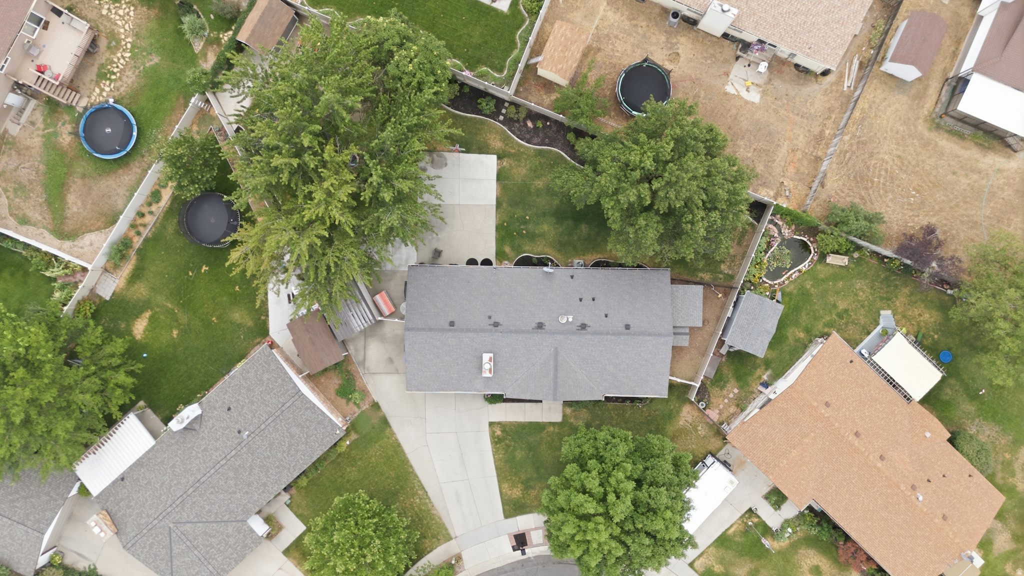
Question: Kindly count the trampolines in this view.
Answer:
3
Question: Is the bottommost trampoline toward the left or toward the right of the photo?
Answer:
left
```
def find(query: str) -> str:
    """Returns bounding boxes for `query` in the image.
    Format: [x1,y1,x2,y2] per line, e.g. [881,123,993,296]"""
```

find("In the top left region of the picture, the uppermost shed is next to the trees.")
[237,0,296,57]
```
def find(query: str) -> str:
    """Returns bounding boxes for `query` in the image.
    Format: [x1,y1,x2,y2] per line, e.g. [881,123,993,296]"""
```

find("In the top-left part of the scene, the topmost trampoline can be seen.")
[76,100,152,159]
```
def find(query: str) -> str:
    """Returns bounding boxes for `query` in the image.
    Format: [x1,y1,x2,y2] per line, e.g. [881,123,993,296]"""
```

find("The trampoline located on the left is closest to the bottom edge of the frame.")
[175,192,243,247]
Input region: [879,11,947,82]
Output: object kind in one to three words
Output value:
shed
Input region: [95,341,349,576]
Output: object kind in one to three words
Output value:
house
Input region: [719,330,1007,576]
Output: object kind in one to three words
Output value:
house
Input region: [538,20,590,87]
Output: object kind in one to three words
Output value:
shed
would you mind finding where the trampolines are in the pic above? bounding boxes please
[175,192,243,247]
[617,52,673,115]
[76,100,152,159]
